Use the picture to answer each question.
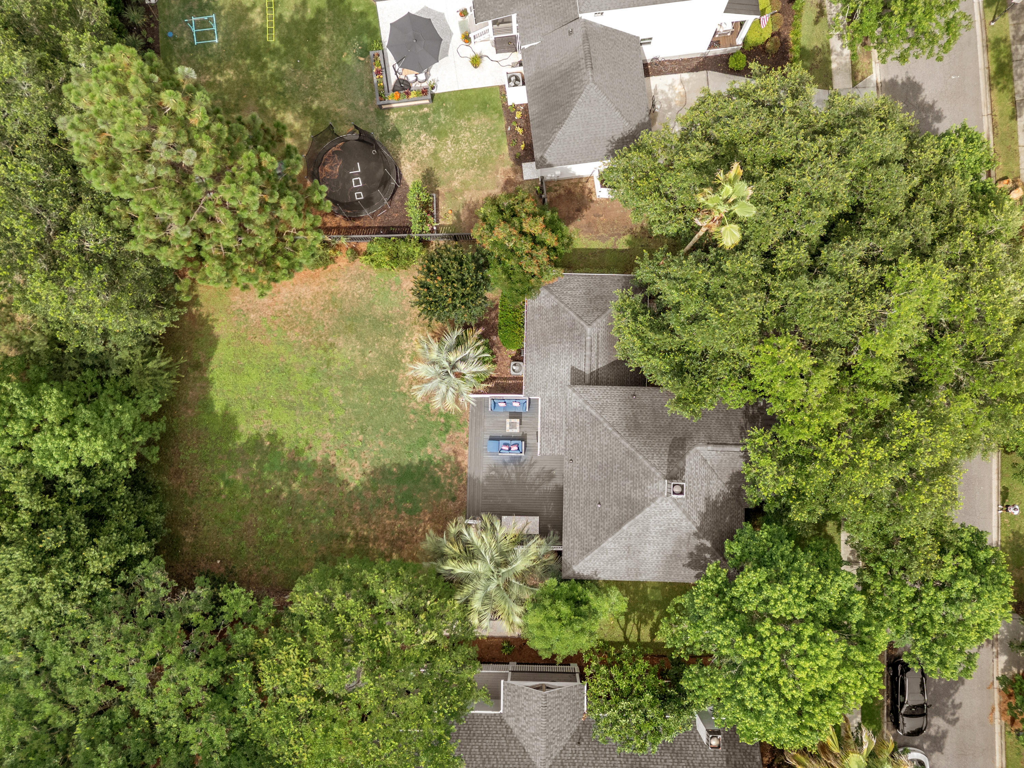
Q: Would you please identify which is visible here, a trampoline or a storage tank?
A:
trampoline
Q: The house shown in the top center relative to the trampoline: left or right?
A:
to its right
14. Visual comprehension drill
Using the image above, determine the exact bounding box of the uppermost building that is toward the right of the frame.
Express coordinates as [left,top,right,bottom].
[470,0,764,178]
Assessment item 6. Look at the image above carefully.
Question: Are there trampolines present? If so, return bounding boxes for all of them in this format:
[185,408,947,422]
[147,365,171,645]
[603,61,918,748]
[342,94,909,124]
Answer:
[303,122,395,216]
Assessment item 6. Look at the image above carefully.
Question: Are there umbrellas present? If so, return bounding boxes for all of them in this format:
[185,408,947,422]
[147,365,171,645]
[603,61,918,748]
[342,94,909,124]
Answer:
[386,12,442,88]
